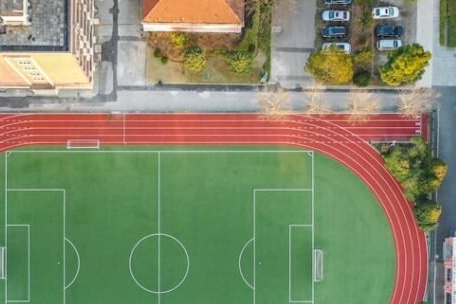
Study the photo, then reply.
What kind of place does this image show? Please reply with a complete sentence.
What you see here is a sports ground.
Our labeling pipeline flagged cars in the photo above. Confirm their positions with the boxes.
[320,23,349,38]
[371,5,400,19]
[321,8,350,22]
[323,39,352,54]
[375,37,404,51]
[375,23,404,37]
